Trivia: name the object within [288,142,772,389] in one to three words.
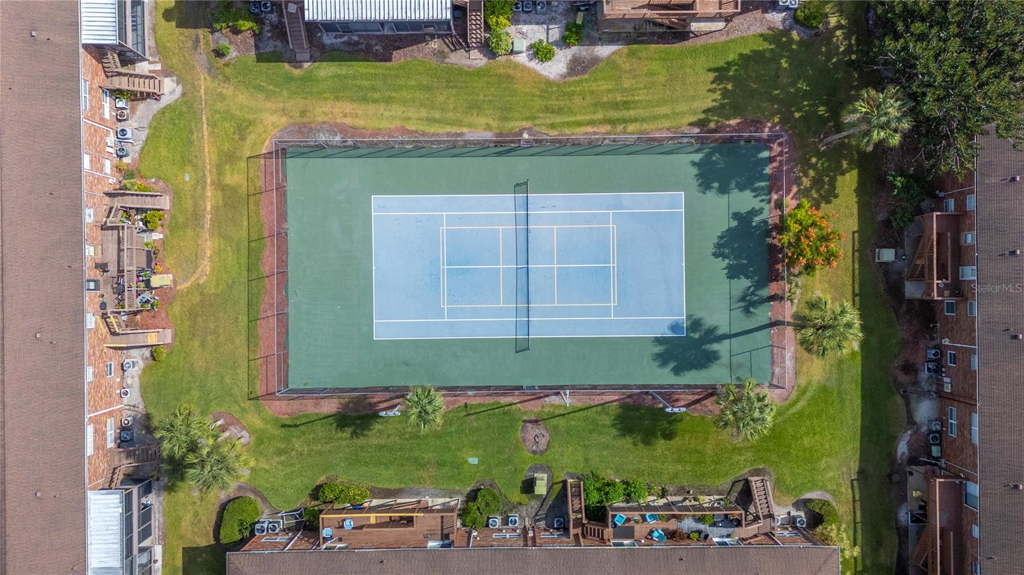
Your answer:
tennis court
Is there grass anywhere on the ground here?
Yes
